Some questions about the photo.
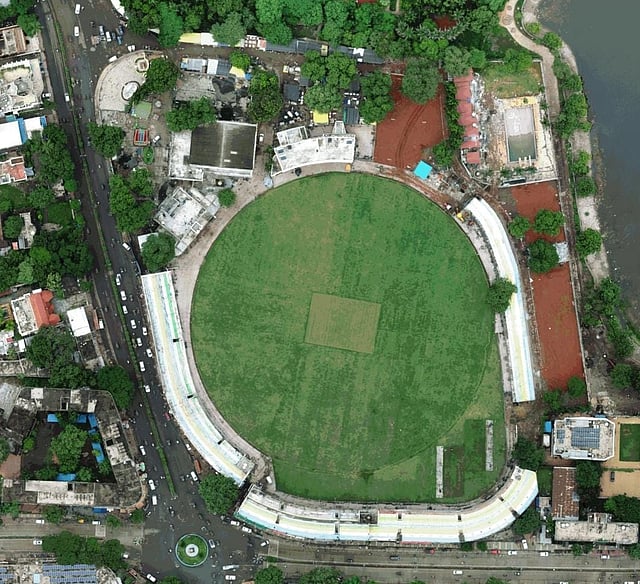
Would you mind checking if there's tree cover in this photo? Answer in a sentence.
Yes, tree cover can be seen from above here.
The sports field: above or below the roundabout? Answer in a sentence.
You can see the sports field above the roundabout in the frame.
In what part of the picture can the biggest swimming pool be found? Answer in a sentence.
Look in the top right portion of the view to spot the biggest swimming pool.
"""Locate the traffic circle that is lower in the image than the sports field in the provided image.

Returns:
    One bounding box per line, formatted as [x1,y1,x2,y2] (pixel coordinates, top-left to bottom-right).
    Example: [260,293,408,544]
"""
[176,534,208,566]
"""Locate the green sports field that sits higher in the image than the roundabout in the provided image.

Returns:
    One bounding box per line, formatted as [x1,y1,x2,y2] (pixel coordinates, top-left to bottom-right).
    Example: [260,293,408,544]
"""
[160,158,517,510]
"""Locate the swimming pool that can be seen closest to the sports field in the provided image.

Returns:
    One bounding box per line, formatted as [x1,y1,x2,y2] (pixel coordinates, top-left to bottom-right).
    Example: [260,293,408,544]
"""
[496,94,556,186]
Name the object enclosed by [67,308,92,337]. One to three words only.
house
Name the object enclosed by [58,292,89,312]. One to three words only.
shed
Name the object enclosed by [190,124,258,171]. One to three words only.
building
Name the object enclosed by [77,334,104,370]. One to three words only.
house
